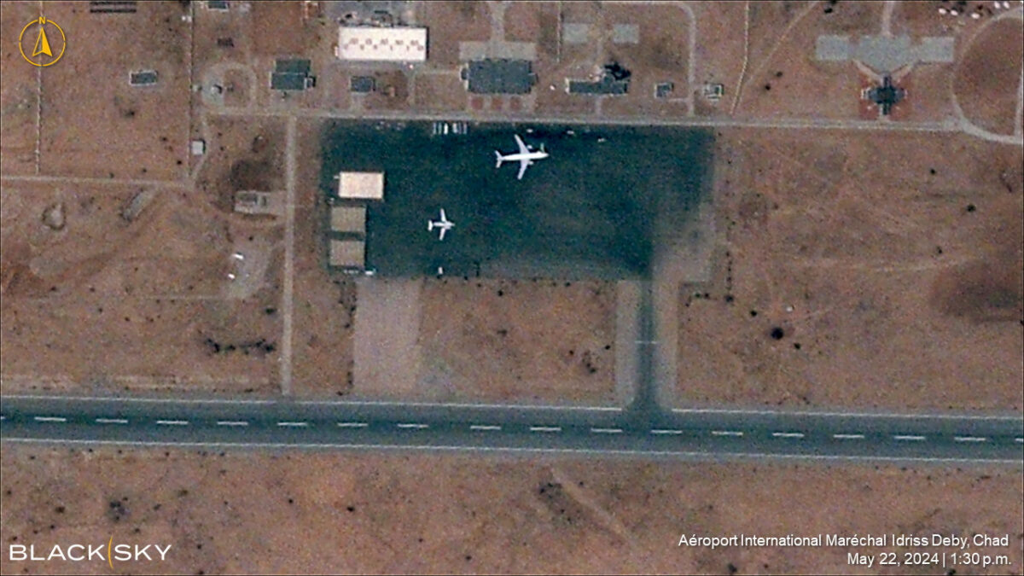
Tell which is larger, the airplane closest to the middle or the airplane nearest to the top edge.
the airplane nearest to the top edge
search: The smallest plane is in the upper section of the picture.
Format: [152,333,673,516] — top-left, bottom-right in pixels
[429,210,455,240]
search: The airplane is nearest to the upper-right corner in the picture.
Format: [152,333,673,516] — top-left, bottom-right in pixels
[497,136,549,180]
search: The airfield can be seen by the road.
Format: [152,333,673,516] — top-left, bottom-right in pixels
[0,122,1024,475]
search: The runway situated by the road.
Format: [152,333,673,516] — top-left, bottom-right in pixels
[0,384,1024,475]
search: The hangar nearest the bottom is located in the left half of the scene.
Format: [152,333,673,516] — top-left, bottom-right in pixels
[329,240,366,267]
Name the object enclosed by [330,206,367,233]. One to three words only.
hangar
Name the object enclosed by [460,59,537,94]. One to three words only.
building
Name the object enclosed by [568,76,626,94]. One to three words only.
house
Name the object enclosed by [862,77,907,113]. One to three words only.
building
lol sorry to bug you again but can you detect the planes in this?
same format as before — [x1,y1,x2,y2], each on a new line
[497,136,549,180]
[429,210,455,240]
